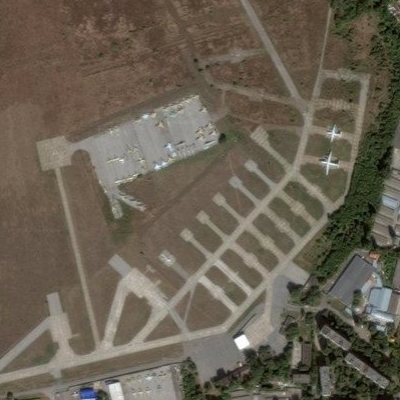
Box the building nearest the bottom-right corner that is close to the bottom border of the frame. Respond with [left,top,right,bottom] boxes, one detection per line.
[345,354,389,388]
